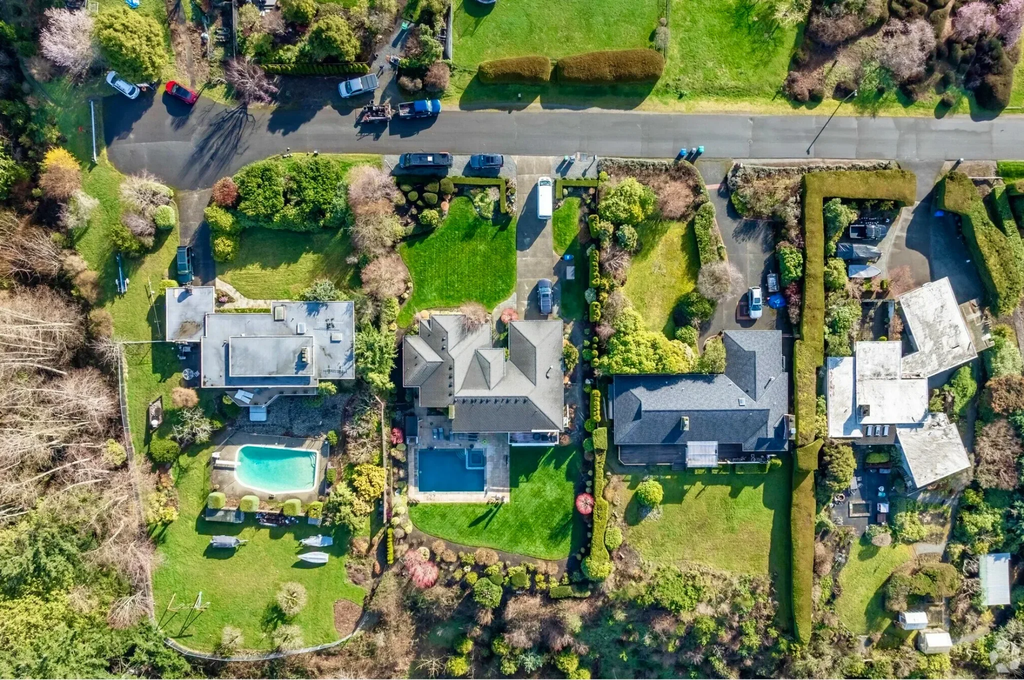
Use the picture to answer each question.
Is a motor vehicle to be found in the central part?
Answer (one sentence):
Yes, a motor vehicle can be seen in the central part.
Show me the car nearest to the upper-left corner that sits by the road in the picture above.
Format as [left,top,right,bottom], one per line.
[104,69,145,102]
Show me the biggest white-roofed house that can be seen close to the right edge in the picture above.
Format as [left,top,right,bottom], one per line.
[823,277,977,488]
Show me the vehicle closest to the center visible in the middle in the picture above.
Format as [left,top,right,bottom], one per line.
[536,277,554,317]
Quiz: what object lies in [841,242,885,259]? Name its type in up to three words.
boat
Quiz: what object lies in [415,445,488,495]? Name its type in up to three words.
swimming pool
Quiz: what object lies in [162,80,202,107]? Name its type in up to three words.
car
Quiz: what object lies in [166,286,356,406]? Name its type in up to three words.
house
